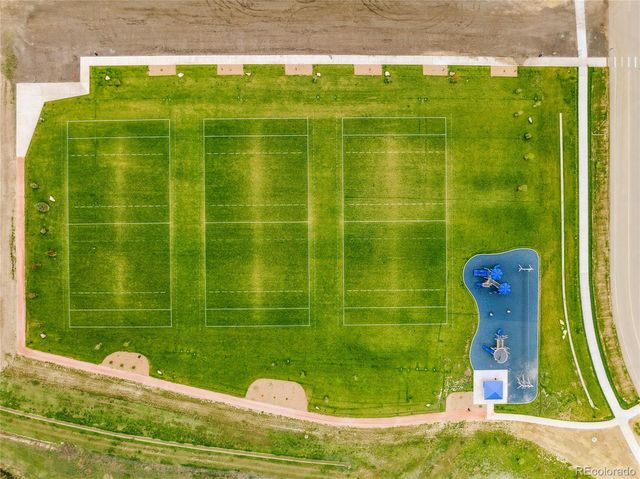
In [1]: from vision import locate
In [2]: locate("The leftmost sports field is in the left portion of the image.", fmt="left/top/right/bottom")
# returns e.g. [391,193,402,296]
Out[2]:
[61,118,178,334]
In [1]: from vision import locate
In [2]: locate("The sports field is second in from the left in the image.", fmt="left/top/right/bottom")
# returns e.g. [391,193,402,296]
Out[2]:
[197,117,316,335]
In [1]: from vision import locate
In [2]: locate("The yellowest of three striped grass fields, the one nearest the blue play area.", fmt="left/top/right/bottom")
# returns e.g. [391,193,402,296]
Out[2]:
[336,116,454,333]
